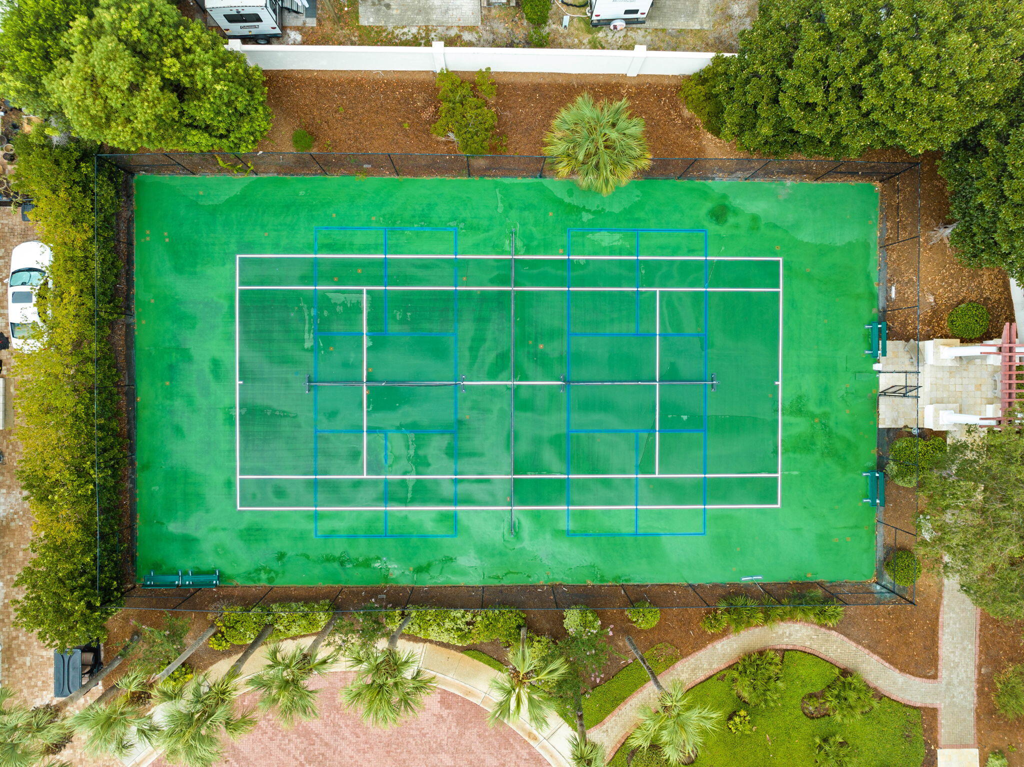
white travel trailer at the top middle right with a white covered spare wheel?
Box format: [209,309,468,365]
[584,0,654,37]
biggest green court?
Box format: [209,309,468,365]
[134,176,879,586]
